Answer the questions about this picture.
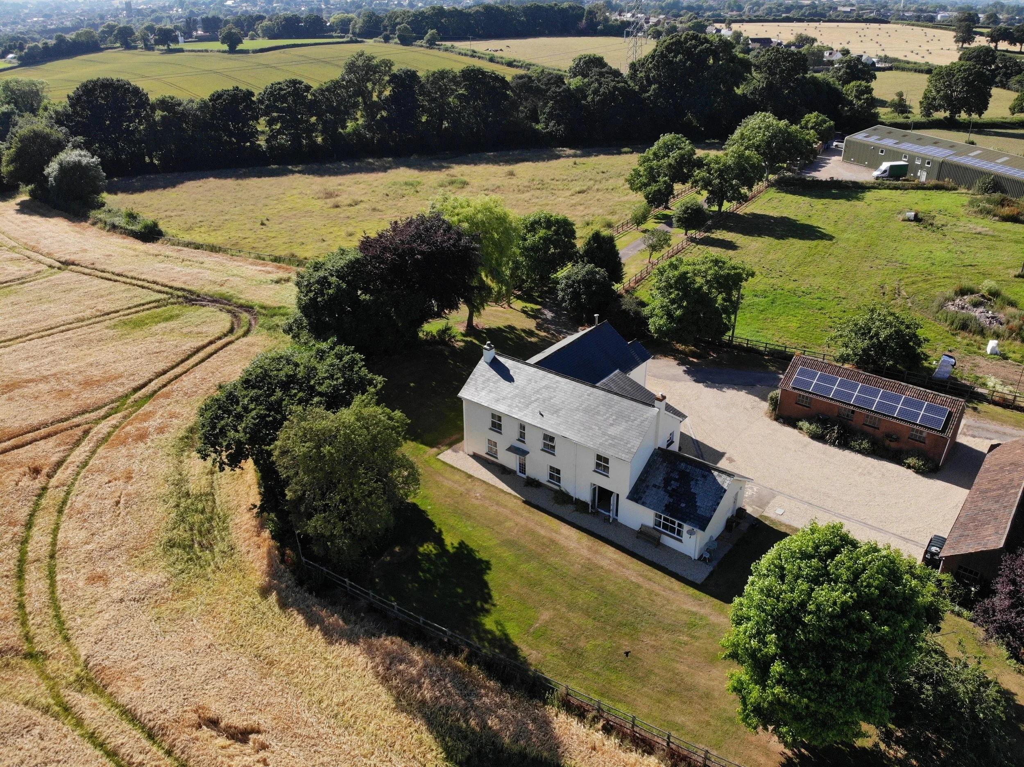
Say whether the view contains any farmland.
Yes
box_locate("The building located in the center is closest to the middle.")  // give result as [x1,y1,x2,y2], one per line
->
[458,309,751,558]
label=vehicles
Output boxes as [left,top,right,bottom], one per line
[872,160,919,182]
[828,141,844,152]
[906,512,957,570]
